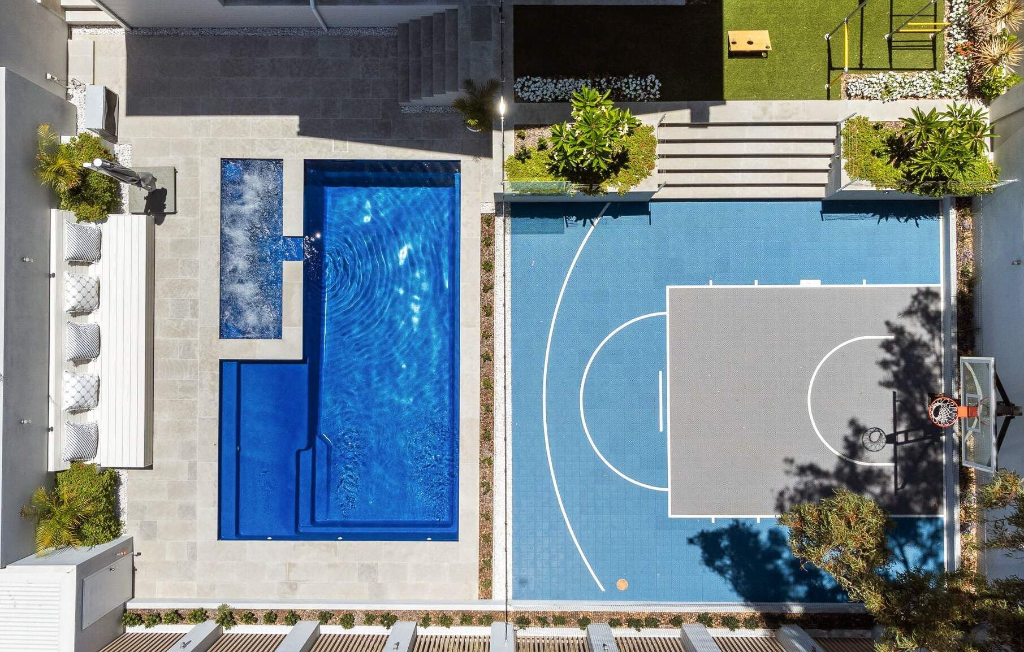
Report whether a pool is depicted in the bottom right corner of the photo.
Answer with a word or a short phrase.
No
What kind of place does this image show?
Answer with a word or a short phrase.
sports ground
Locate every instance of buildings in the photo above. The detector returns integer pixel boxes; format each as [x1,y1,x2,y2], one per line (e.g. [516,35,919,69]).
[4,537,134,652]
[89,0,243,32]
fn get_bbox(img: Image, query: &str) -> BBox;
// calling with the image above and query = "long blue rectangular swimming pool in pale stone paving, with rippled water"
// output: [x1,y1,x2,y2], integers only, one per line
[221,160,460,540]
